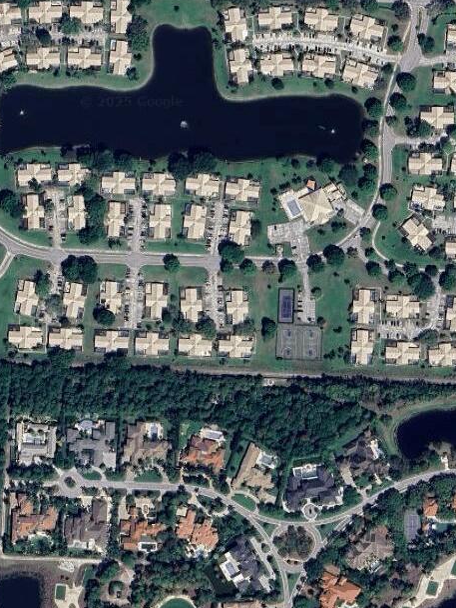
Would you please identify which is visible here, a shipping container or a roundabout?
roundabout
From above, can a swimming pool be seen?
Yes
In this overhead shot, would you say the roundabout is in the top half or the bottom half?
bottom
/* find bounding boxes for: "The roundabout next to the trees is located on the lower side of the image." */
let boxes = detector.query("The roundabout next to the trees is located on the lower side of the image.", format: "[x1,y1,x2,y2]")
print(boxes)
[269,517,321,567]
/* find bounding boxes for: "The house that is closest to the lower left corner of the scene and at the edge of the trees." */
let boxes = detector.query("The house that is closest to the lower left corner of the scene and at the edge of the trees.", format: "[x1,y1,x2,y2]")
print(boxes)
[10,494,58,547]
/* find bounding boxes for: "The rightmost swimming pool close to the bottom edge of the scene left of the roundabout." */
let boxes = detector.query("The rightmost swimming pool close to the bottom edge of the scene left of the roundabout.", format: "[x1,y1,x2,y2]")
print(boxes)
[219,554,244,583]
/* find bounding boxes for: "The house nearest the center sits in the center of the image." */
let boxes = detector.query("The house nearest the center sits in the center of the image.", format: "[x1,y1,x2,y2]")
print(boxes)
[227,291,248,325]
